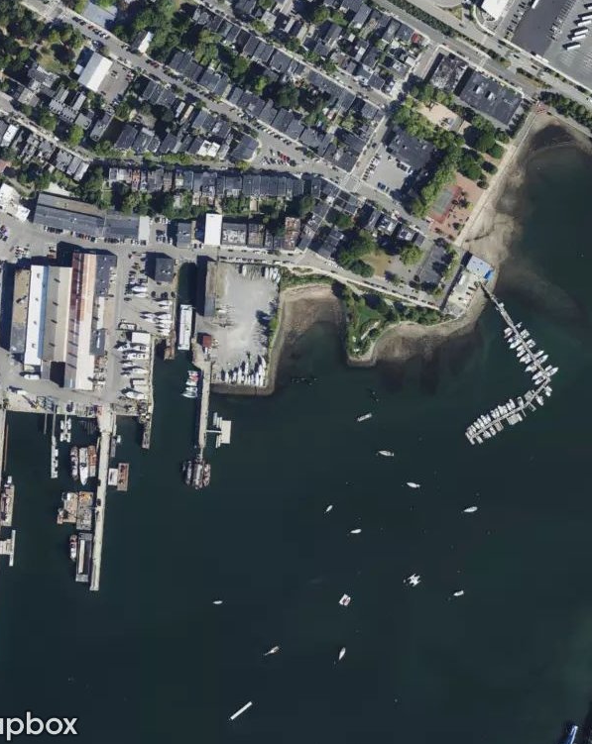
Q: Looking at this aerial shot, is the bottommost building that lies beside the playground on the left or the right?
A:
right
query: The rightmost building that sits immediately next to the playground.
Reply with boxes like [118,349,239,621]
[458,71,521,128]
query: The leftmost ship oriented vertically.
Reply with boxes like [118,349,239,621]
[0,475,14,525]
